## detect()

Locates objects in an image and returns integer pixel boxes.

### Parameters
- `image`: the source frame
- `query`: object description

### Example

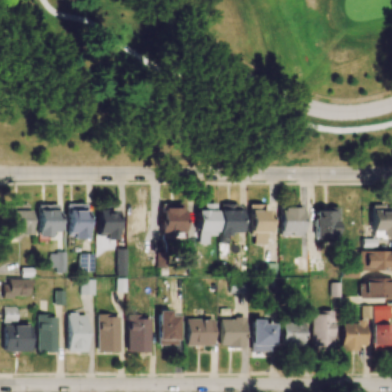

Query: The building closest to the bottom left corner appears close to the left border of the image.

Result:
[4,324,34,355]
